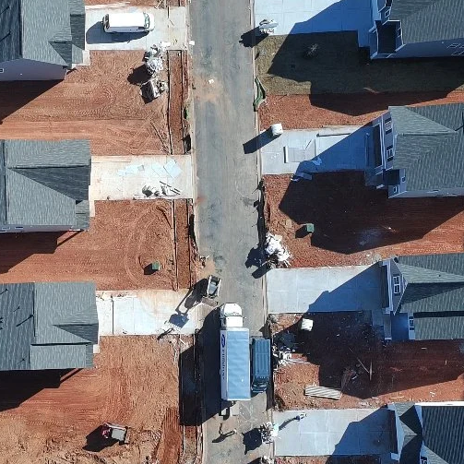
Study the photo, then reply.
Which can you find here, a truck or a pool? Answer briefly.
truck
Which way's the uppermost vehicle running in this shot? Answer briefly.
horizontally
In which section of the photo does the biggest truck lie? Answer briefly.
bottom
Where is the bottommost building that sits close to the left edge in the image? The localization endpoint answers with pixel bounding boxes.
[0,281,99,372]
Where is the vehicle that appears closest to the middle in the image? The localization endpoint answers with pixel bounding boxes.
[204,273,226,306]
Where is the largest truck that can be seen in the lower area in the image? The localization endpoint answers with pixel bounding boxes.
[221,298,257,417]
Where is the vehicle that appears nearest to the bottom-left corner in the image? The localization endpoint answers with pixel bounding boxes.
[95,422,130,445]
